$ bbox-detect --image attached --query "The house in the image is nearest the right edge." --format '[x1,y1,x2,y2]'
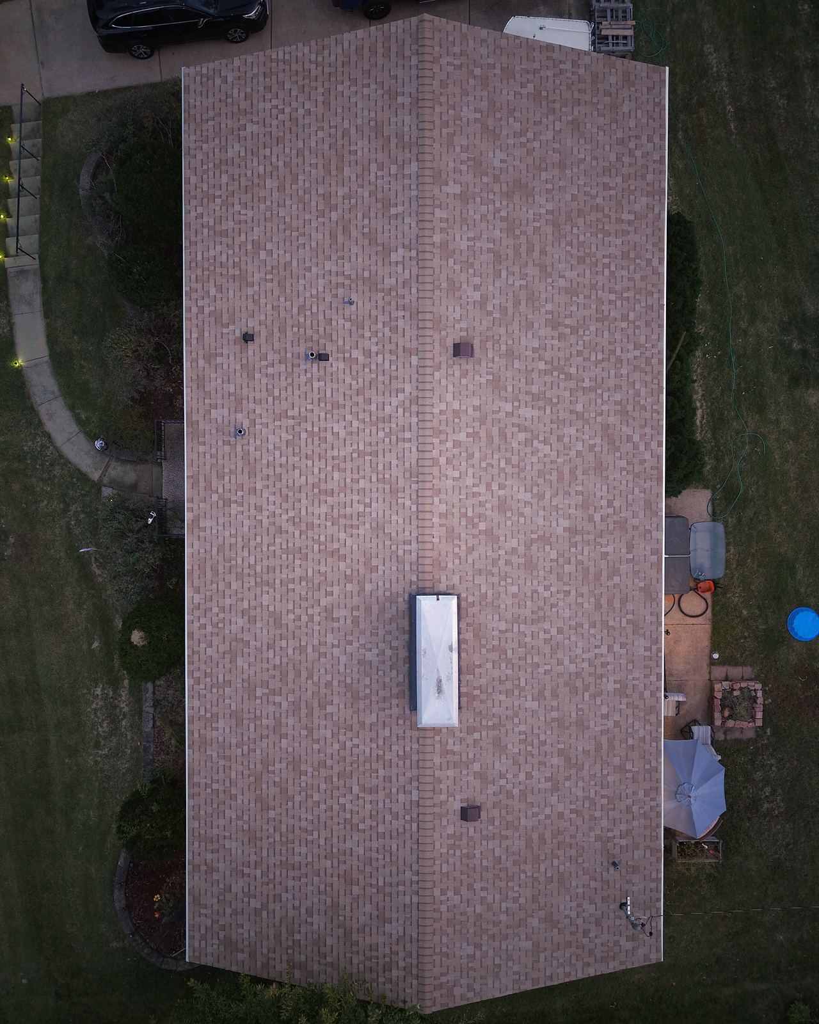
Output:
[181,14,668,1014]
